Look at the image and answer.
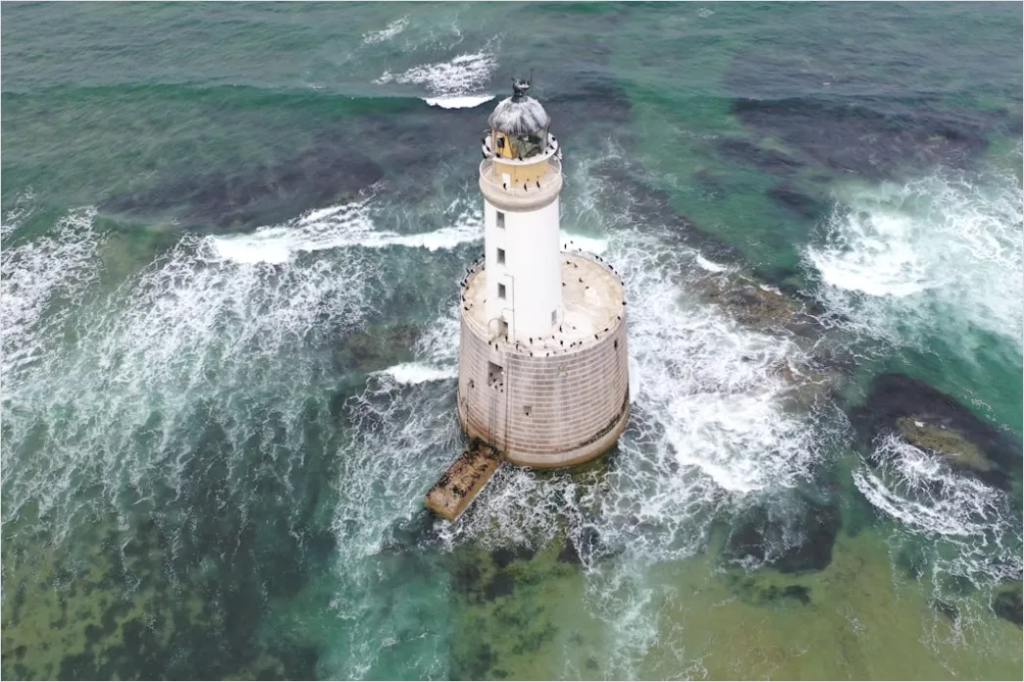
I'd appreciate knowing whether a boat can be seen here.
No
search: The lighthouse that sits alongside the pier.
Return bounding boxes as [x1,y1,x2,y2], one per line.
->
[456,68,631,481]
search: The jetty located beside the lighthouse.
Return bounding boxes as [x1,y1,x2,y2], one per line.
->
[426,437,507,534]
